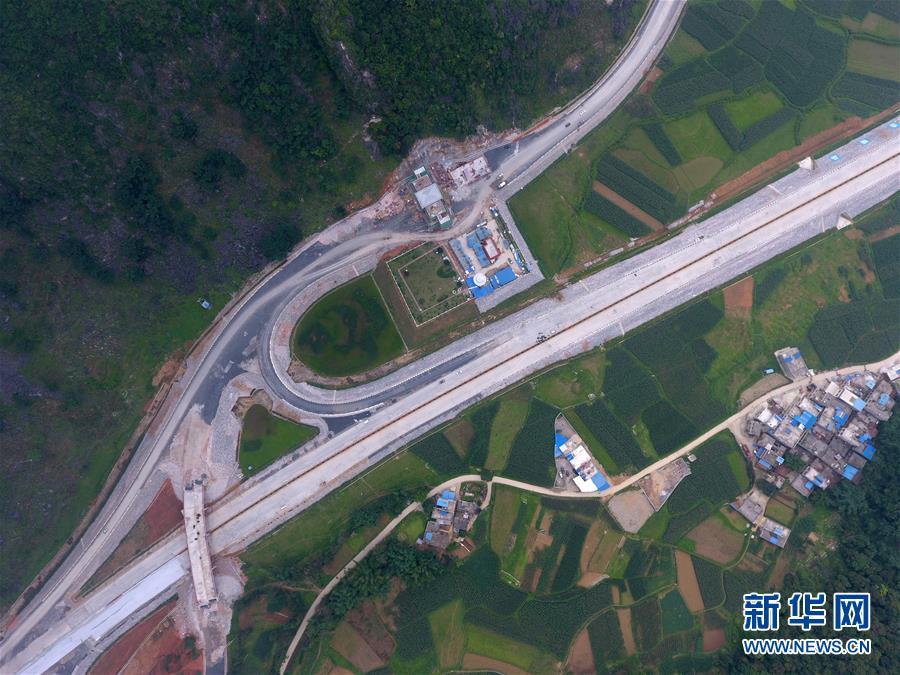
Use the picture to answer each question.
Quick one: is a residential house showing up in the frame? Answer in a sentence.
Yes, I can see a residential house in this picture.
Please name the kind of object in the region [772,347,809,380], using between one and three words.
house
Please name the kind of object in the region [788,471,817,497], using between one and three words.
house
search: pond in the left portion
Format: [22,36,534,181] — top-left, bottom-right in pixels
[292,273,403,378]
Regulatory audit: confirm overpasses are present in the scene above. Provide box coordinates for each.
[183,483,224,606]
